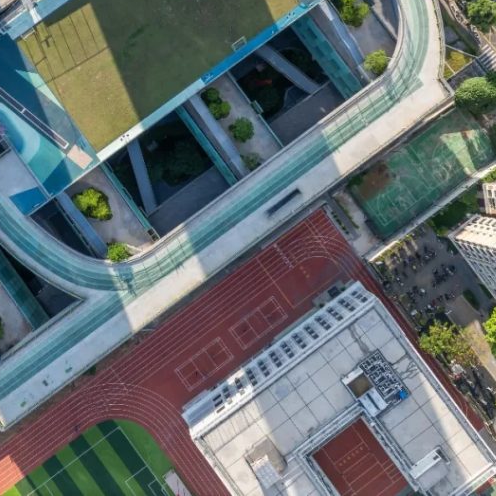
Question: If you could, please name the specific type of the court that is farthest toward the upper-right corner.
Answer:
basketball court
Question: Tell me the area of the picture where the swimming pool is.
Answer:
top left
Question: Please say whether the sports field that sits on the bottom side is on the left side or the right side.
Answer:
left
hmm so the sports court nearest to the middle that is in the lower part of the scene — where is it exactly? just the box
[229,297,288,349]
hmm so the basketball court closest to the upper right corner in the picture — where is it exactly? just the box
[348,108,492,238]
